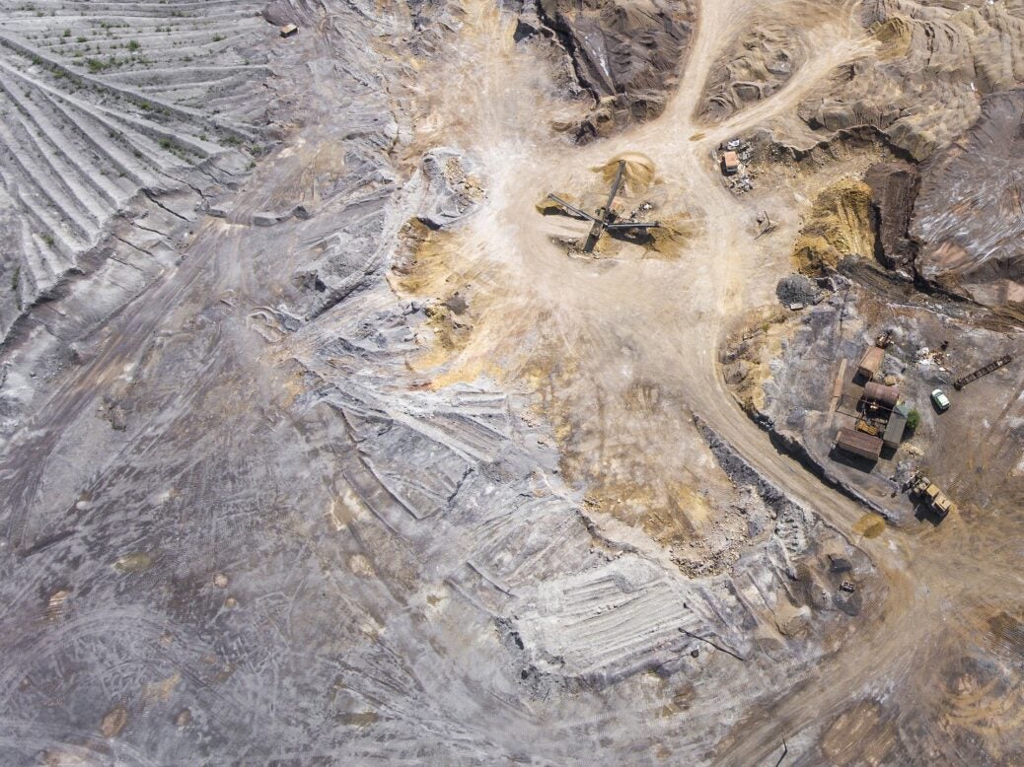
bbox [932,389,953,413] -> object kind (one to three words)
car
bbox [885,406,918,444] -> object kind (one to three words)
shed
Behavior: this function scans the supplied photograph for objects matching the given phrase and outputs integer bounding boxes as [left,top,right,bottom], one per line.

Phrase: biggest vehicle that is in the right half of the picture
[910,468,964,513]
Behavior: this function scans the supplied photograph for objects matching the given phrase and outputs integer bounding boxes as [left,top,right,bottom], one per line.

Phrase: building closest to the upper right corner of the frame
[725,150,742,174]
